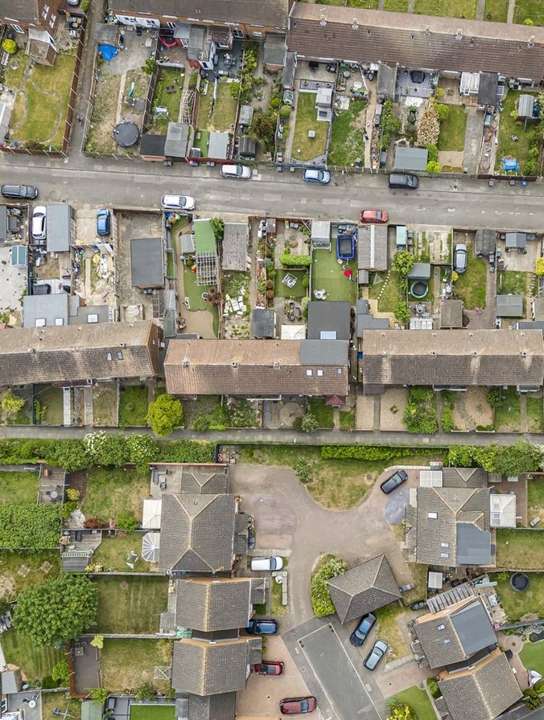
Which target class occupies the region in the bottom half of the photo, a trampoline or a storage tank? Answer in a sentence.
What appears in the bottom half of the photo is a trampoline.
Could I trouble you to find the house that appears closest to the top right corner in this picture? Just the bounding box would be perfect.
[498,22,544,87]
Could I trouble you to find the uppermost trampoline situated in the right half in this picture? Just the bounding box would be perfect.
[335,231,354,258]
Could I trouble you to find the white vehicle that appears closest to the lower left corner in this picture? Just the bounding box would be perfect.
[251,555,285,573]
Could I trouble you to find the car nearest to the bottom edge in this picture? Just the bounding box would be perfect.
[278,695,318,713]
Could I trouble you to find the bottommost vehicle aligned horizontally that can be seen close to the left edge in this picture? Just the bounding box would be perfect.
[1,184,38,201]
